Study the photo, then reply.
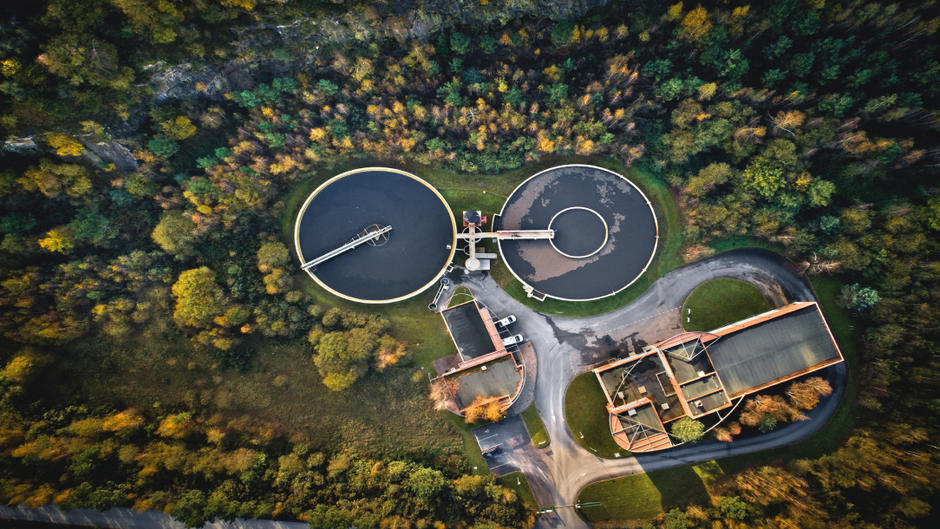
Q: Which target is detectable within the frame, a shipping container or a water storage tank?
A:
water storage tank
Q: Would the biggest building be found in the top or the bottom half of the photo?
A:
bottom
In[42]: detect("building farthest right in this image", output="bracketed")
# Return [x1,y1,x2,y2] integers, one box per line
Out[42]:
[588,299,844,453]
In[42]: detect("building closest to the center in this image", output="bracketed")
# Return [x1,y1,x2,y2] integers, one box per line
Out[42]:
[429,298,526,418]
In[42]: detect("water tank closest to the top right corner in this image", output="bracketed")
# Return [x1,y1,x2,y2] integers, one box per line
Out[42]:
[491,164,660,301]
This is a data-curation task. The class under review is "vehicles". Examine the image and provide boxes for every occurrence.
[502,336,524,347]
[494,316,516,328]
